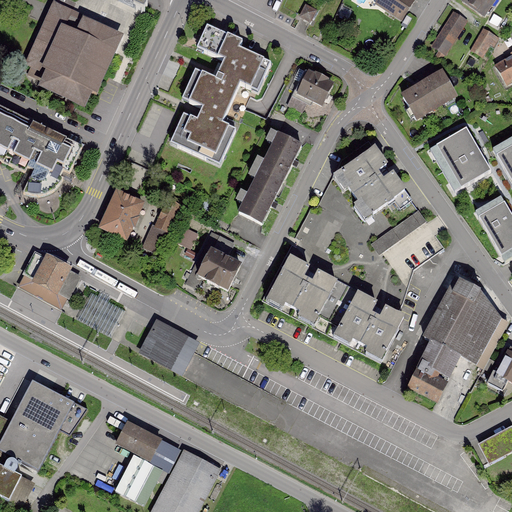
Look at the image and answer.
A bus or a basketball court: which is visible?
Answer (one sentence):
It is a bus that can be seen here.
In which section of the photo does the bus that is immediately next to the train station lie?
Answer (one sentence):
The bus that is immediately next to the train station is in the left part of the image.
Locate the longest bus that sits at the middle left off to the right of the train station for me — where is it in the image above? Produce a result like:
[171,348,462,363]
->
[76,260,138,298]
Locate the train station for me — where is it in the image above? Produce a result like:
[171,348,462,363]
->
[18,253,79,310]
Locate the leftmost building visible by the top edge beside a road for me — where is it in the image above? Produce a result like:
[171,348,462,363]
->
[27,1,124,108]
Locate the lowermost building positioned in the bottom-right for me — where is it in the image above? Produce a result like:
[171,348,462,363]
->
[478,423,512,468]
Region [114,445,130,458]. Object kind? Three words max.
vehicle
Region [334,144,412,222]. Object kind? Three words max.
building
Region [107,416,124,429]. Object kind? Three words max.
vehicle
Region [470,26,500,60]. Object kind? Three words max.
house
